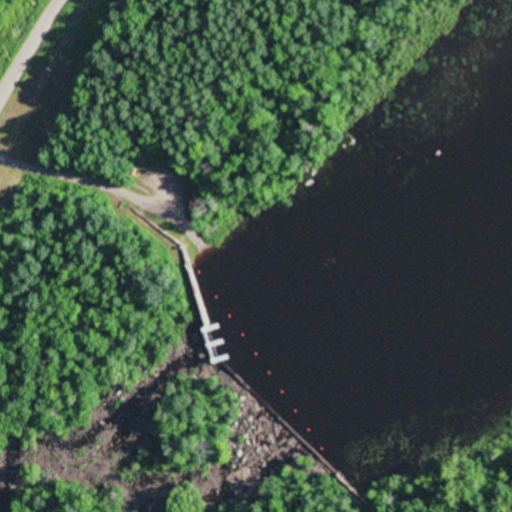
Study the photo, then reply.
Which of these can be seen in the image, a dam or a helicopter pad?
dam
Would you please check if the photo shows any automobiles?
No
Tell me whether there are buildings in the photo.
No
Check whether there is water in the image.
Yes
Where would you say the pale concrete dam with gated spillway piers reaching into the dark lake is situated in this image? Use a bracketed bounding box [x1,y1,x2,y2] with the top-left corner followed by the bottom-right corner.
[116,204,230,365]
